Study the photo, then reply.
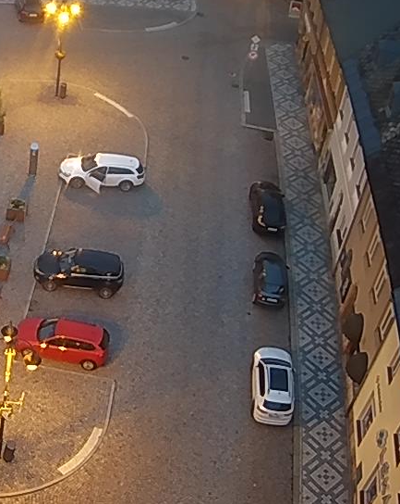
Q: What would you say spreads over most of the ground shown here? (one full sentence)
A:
For the most part, this view shows paved ground.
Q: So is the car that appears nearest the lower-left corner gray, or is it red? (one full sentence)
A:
In this view, the car that appears nearest the lower-left corner is red.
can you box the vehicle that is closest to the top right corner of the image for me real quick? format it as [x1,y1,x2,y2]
[245,178,289,239]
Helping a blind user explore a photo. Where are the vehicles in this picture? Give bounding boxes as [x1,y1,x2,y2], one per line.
[245,242,292,309]
[18,0,45,21]
[32,247,129,300]
[10,313,112,371]
[58,152,148,198]
[246,338,299,431]
[245,178,289,239]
